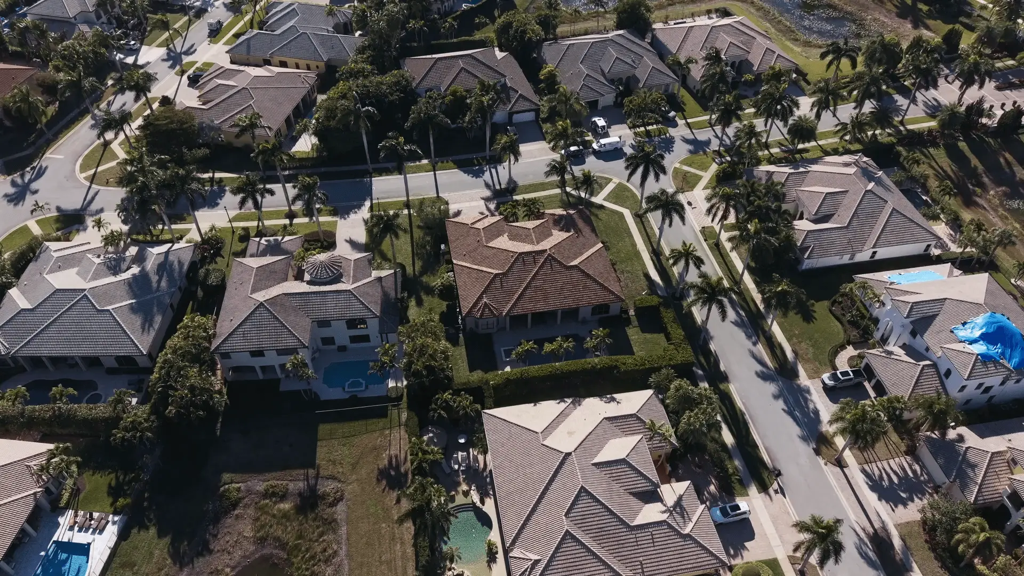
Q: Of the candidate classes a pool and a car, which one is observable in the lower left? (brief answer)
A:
pool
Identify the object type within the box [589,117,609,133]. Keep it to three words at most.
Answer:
car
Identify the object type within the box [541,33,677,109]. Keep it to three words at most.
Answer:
house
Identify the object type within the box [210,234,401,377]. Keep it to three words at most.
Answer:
house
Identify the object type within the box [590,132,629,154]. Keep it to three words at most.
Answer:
vehicle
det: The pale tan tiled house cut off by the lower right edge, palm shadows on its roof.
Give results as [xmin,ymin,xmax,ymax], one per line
[915,416,1024,522]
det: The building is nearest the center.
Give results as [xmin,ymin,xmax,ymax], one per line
[445,206,625,339]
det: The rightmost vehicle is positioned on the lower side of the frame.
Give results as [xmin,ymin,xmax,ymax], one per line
[821,367,870,389]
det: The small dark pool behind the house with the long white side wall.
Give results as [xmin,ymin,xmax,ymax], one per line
[899,187,931,210]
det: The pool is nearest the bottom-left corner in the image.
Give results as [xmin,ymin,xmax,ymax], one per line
[29,538,93,576]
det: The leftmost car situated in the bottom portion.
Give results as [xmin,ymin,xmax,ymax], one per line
[709,500,754,528]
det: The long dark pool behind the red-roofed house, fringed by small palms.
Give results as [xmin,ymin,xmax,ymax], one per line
[515,332,592,367]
